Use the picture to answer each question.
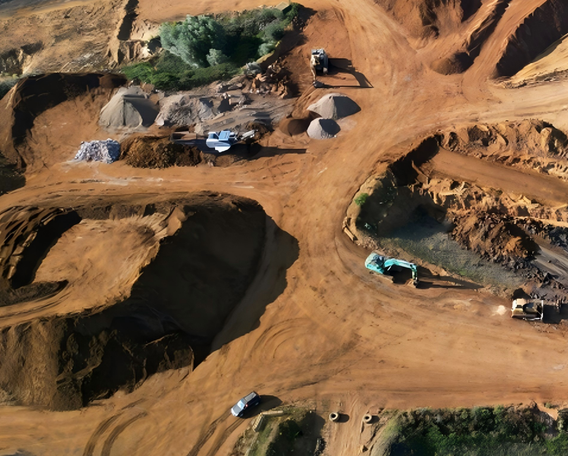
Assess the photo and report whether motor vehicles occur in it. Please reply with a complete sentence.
Yes, the photo shows a motor vehicle.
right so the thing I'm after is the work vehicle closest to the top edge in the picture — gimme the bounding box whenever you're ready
[307,52,329,86]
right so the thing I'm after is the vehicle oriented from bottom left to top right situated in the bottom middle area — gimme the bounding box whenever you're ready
[226,394,263,423]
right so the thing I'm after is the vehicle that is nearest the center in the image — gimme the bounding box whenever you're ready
[366,251,423,283]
